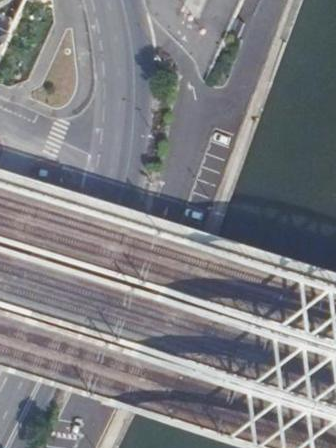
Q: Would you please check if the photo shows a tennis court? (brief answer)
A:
No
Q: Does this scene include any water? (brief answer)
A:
Yes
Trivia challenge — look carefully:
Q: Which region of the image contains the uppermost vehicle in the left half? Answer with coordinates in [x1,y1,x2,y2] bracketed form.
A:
[32,167,52,180]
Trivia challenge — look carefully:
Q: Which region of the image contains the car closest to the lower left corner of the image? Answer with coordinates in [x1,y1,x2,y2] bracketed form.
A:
[70,417,82,435]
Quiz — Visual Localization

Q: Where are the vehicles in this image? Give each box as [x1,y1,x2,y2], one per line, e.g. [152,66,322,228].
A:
[70,417,82,435]
[32,167,52,180]
[212,132,232,146]
[184,207,204,219]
